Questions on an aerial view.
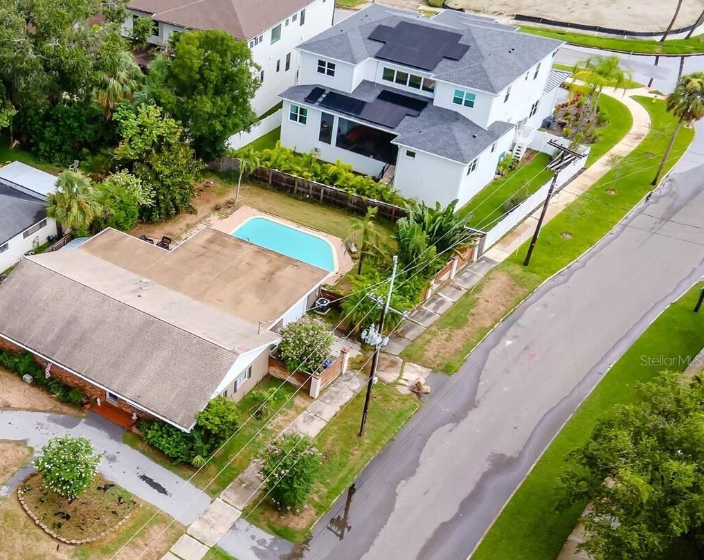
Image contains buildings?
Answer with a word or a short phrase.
Yes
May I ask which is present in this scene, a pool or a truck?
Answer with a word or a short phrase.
pool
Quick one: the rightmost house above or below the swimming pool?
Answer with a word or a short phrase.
above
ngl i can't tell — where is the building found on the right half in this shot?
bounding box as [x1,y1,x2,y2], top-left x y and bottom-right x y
[278,5,572,208]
